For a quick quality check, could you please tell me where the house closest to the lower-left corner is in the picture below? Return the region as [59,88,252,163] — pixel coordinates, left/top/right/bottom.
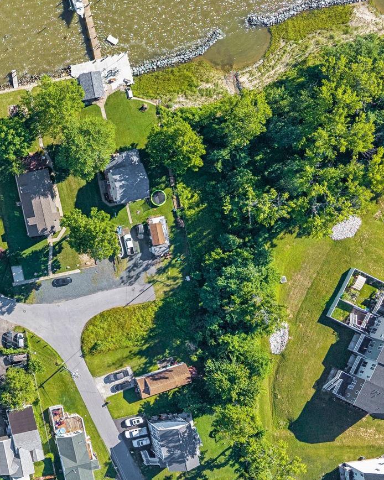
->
[0,438,34,480]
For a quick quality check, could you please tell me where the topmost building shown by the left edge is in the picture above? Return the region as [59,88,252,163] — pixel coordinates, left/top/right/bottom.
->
[15,169,61,237]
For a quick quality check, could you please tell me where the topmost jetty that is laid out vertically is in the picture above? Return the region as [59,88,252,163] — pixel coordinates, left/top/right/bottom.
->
[83,0,104,61]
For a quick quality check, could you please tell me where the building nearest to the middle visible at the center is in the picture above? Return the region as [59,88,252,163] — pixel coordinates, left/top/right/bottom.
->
[148,216,169,255]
